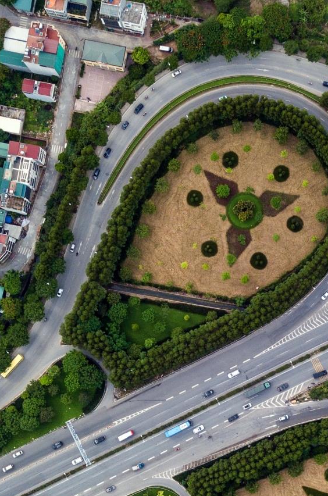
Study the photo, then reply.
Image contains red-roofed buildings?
Yes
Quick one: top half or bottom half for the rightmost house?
top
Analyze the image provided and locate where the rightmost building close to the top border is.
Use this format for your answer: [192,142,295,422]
[121,1,153,40]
